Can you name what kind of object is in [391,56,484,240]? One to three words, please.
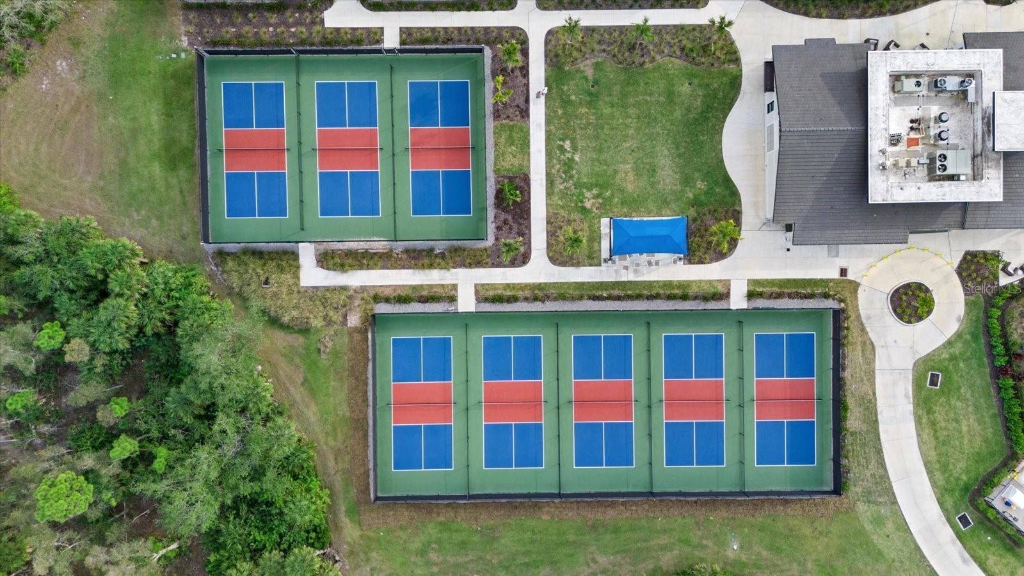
sports court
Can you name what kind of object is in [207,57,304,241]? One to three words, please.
sports court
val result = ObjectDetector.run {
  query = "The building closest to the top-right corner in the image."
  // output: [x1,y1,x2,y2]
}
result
[763,32,1024,246]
